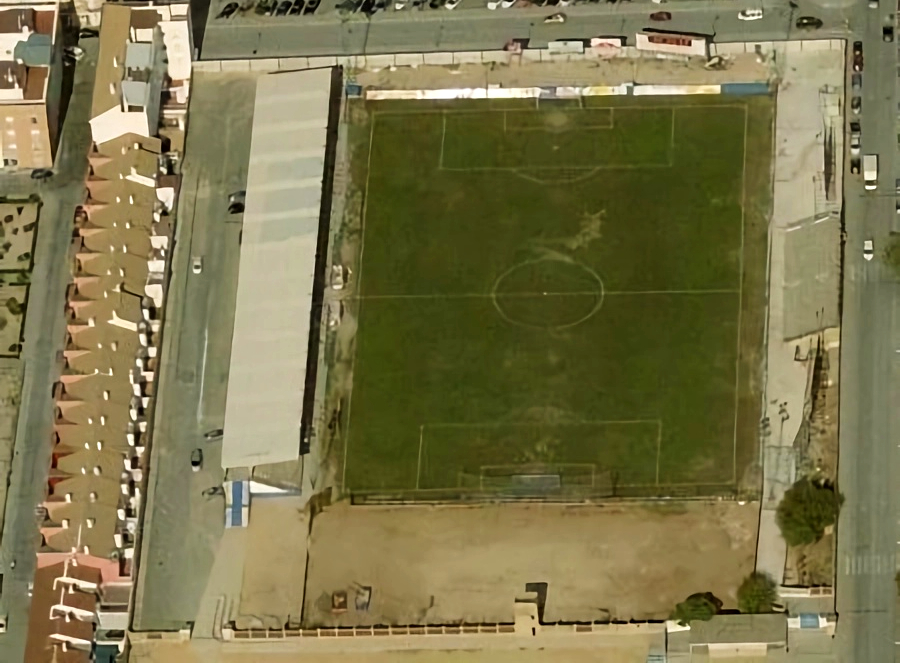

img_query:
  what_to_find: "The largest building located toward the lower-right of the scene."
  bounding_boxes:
[690,612,788,658]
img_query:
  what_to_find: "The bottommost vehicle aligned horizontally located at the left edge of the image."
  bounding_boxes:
[27,167,54,179]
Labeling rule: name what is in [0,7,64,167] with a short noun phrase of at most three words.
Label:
building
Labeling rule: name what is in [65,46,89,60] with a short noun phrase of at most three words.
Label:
car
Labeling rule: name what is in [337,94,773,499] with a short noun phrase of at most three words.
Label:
soccer field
